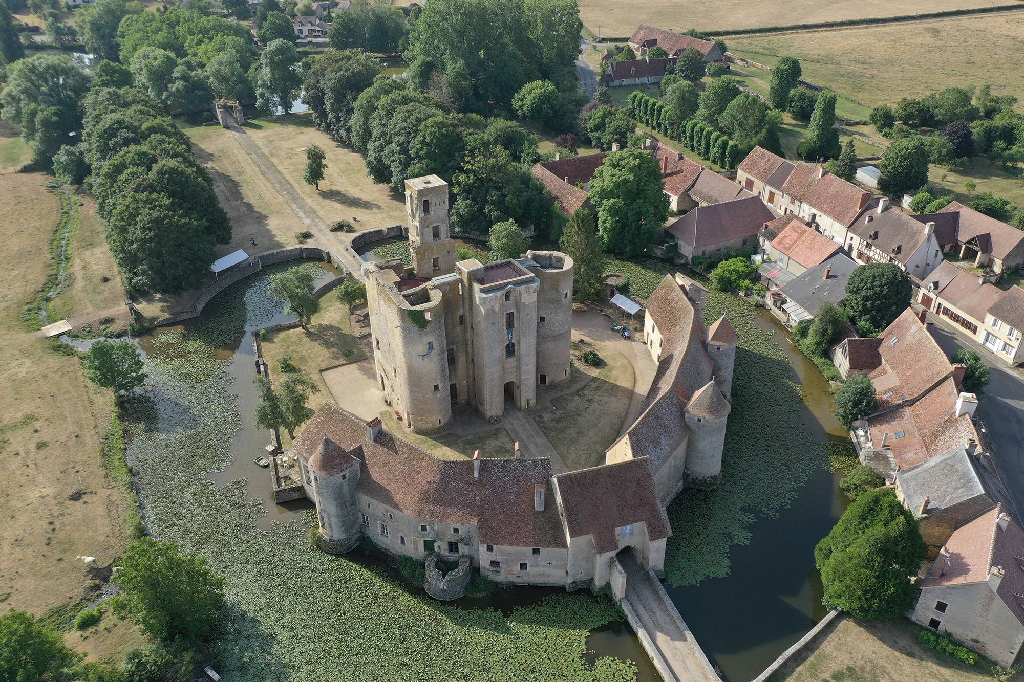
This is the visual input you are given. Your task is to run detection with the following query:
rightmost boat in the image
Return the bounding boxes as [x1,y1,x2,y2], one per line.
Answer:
[252,453,268,468]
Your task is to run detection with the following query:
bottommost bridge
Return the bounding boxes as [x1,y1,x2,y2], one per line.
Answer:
[611,543,727,682]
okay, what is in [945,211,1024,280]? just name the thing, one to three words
barn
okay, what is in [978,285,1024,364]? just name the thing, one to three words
house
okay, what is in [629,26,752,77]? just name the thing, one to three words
barn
